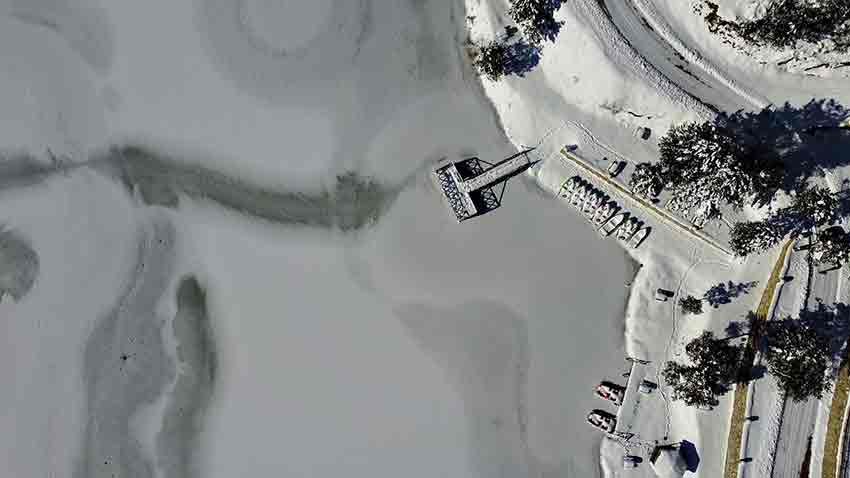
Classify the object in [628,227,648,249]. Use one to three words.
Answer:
boat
